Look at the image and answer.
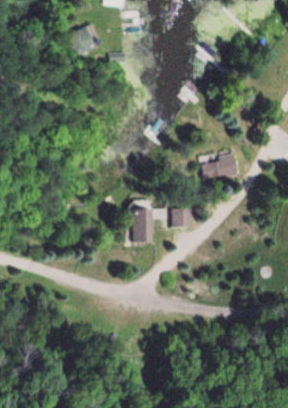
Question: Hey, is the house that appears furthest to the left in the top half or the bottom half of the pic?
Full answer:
It is in the top half that the house that appears furthest to the left appears.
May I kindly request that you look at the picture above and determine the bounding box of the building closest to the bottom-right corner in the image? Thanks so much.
[171,208,191,226]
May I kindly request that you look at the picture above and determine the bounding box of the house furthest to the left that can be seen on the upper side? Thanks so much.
[72,24,100,53]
